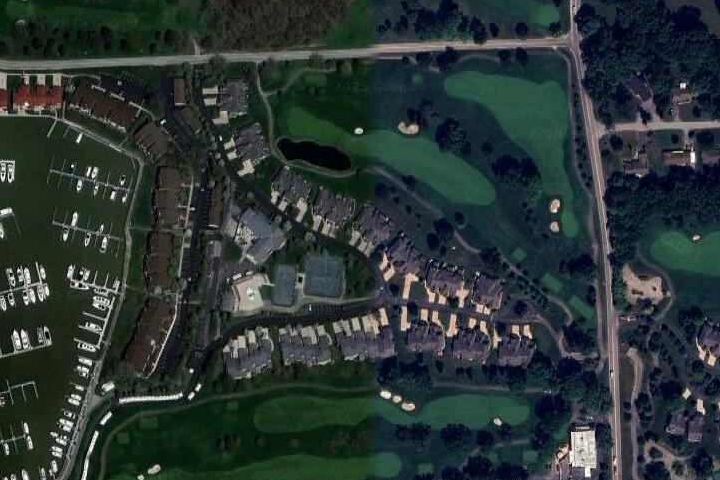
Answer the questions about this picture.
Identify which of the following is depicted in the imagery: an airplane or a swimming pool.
swimming pool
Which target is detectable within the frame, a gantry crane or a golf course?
golf course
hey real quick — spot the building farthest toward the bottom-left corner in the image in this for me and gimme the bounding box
[133,296,179,376]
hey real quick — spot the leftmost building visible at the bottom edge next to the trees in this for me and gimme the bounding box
[556,425,597,477]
